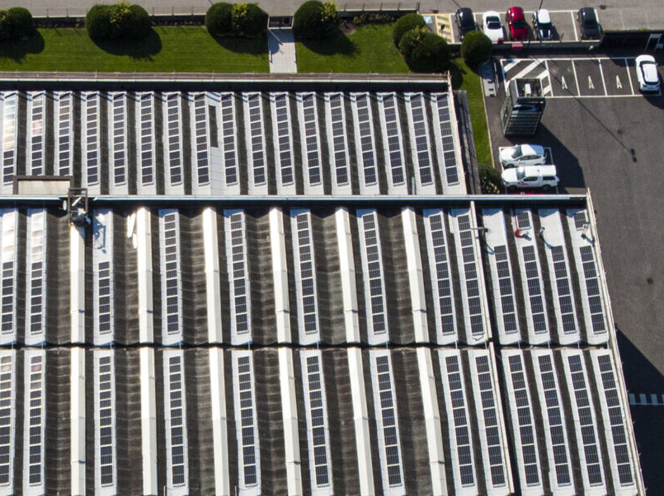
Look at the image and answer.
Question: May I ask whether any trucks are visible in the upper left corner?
No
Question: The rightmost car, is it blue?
No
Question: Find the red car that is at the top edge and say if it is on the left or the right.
right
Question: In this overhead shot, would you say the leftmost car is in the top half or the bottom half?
top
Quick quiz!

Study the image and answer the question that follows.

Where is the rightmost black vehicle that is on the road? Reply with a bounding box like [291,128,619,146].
[577,2,603,38]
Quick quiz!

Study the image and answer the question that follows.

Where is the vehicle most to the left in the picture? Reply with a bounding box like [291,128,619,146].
[455,1,480,36]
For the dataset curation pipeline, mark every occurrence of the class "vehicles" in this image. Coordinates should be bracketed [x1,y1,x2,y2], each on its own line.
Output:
[506,5,528,37]
[502,160,559,187]
[637,53,662,87]
[499,143,548,165]
[455,1,480,36]
[533,6,555,36]
[486,6,508,38]
[577,2,603,38]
